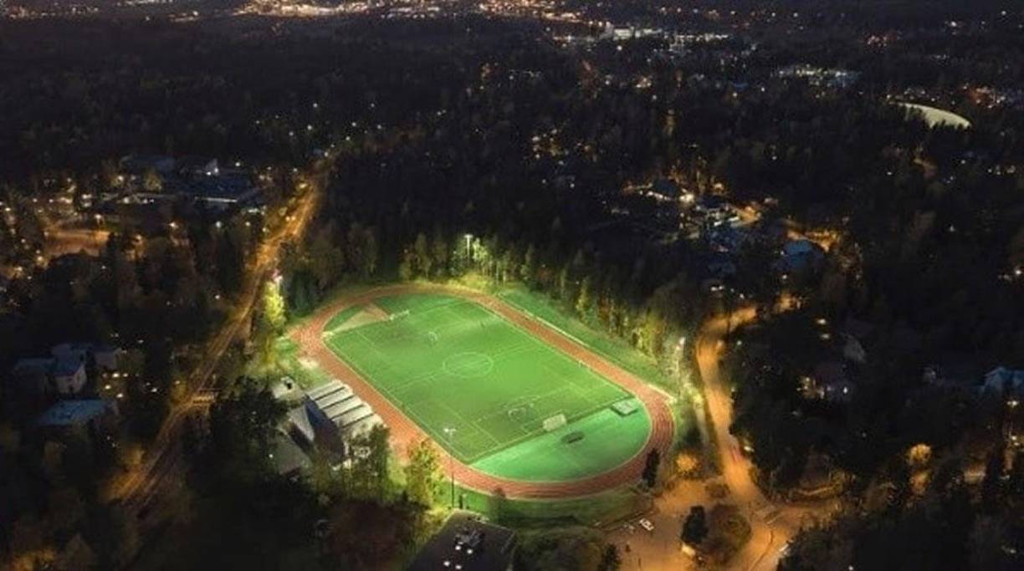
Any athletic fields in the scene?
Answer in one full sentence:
Yes, there's an athletic field down there.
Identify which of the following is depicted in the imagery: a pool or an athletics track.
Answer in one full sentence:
The one in the frame is an athletics track.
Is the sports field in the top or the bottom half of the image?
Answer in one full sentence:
The bottom half of the photo is where the sports field is.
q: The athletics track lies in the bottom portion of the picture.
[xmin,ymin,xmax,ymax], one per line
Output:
[304,284,676,500]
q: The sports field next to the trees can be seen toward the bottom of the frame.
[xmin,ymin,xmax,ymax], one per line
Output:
[323,296,637,468]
